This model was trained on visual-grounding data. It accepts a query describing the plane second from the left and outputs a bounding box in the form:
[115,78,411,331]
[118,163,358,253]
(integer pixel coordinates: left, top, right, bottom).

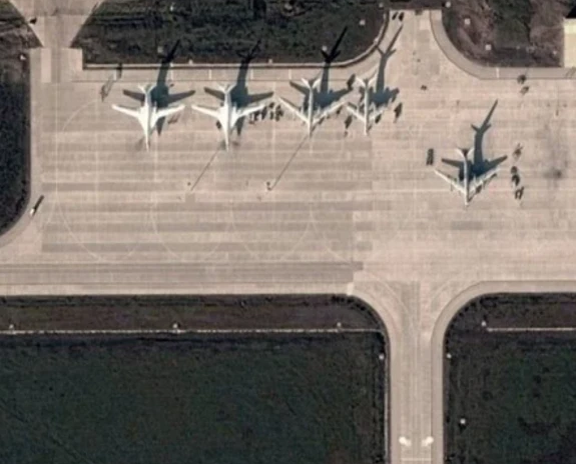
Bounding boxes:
[191,83,264,150]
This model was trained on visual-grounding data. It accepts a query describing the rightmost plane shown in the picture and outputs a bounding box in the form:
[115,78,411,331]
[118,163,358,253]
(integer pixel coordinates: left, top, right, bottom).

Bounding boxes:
[434,149,498,206]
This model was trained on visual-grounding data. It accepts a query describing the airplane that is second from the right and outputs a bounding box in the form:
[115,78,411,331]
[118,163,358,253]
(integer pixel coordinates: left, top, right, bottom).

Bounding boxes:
[346,74,387,134]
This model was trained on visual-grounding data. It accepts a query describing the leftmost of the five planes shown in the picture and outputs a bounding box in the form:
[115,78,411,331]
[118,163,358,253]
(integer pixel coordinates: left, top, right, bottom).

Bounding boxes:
[112,84,184,152]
